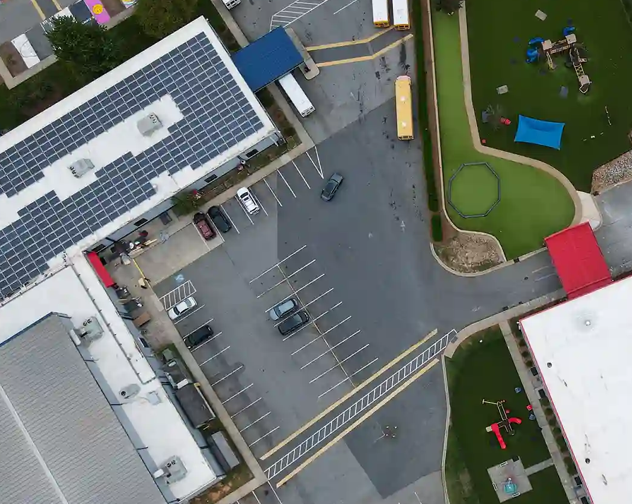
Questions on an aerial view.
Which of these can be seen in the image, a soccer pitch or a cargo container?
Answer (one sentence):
This aerial view contains a cargo container.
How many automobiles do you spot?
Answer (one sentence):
I count 8 automobiles.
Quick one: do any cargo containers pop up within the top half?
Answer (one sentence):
No, there is no cargo container within the top half.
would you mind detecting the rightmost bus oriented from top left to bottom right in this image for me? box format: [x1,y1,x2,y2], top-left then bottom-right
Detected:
[279,72,318,121]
